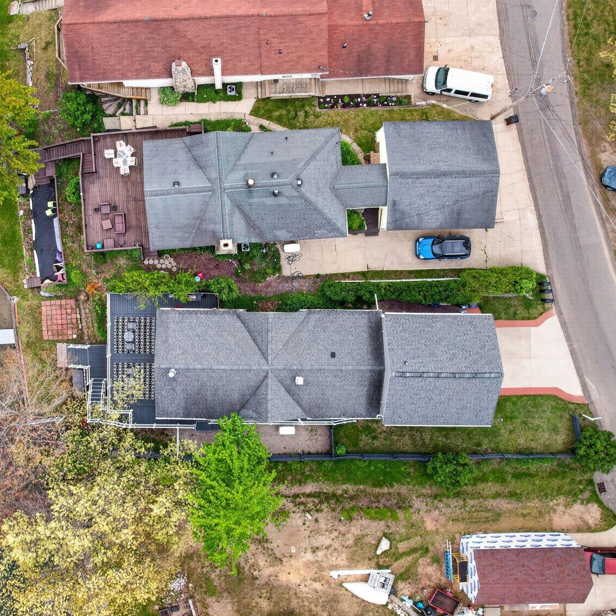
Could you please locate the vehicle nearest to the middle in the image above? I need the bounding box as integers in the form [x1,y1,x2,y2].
[414,233,471,262]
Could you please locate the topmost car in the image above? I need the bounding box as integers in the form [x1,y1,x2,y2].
[422,63,497,102]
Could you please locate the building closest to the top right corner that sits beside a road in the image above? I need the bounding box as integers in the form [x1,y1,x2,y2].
[376,118,501,232]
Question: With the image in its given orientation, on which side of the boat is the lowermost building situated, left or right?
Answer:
to the right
